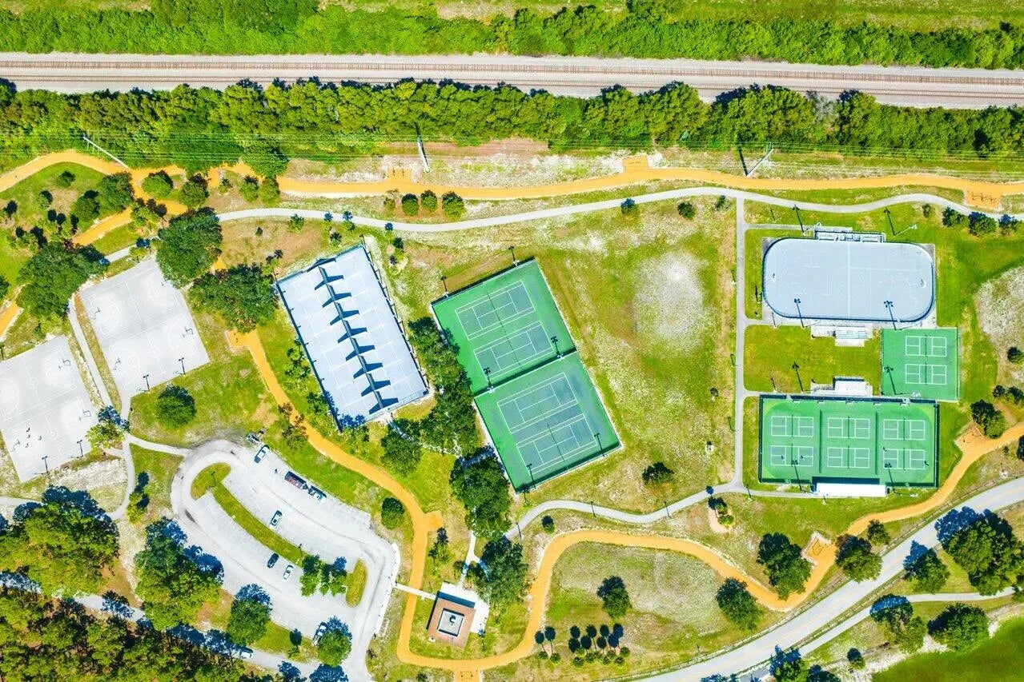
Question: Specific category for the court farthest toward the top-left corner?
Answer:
basketball court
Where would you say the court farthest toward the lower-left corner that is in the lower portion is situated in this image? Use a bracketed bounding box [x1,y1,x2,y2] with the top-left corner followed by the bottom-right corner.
[0,391,105,483]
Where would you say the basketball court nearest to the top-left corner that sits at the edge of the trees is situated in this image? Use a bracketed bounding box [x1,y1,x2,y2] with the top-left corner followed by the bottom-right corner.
[81,257,183,345]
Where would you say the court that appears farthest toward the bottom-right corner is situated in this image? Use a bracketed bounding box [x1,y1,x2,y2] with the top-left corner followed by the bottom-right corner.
[876,442,939,487]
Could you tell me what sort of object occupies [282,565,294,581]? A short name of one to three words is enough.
vehicle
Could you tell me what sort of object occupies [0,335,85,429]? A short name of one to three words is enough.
basketball court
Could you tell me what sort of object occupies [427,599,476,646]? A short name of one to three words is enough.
building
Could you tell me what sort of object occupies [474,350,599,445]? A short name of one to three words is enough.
tennis court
